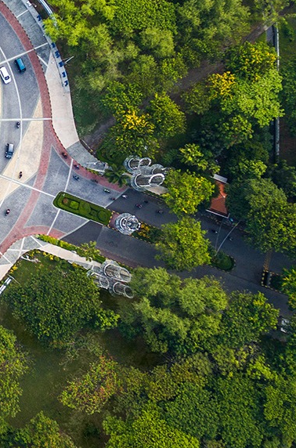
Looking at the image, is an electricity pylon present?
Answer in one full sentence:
No, I find no electricity pylon anywhere in the image.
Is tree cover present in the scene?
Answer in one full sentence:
Yes, tree cover can be seen from above here.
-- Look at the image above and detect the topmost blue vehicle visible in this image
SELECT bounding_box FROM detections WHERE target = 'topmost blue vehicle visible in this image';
[14,54,28,74]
